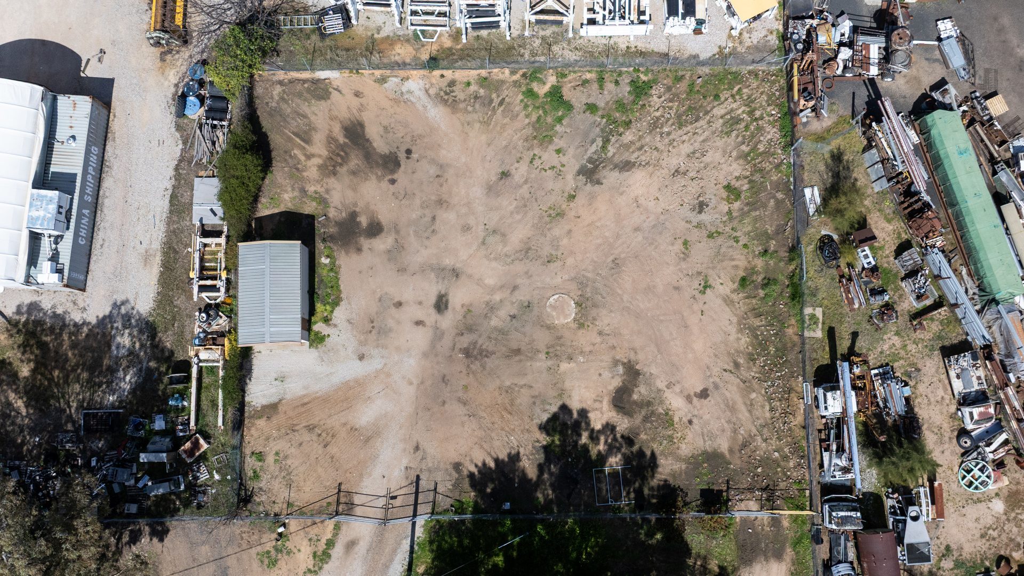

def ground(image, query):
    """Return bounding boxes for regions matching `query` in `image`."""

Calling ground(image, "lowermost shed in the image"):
[236,240,308,346]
